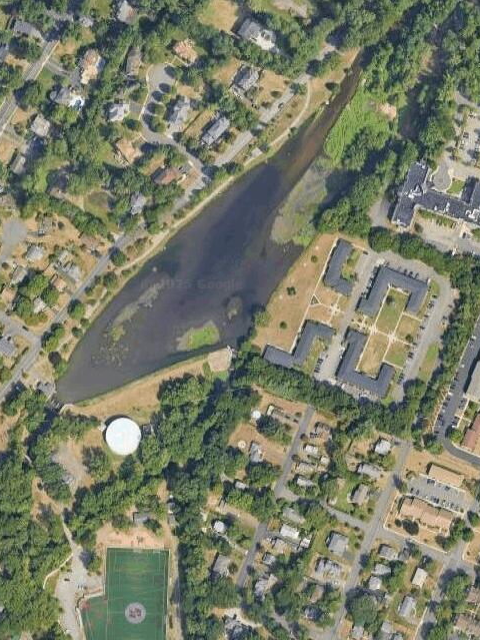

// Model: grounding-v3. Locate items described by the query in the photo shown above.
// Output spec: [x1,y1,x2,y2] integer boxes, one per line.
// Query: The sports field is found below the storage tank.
[81,548,169,640]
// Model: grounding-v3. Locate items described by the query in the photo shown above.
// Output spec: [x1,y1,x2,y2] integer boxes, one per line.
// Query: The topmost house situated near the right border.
[390,163,480,227]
